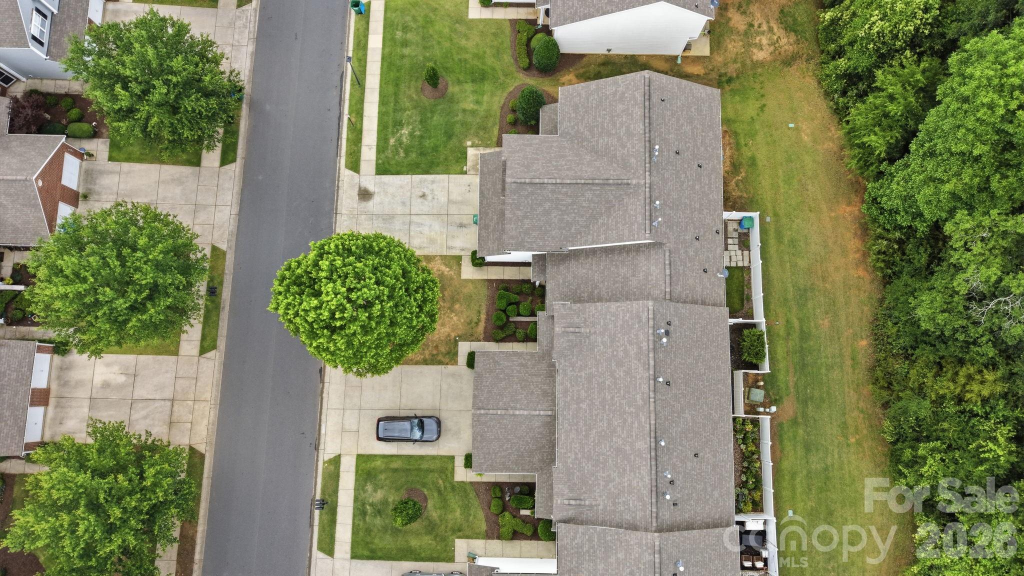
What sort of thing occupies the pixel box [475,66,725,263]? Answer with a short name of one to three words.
house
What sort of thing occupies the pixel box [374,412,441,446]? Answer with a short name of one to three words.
car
